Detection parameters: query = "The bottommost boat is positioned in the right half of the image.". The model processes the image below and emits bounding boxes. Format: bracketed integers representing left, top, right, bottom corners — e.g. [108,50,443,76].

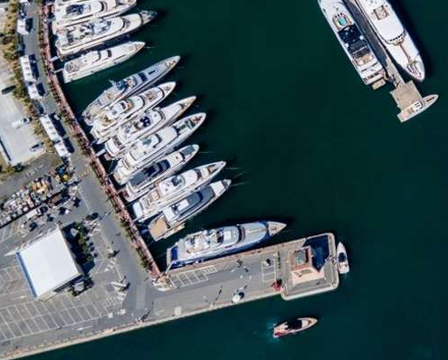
[272,319,316,342]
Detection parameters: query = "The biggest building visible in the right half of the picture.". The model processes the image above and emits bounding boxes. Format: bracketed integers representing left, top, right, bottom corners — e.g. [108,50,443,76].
[286,245,324,286]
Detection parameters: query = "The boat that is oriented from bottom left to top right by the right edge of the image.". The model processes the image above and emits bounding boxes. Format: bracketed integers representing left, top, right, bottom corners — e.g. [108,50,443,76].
[396,97,437,125]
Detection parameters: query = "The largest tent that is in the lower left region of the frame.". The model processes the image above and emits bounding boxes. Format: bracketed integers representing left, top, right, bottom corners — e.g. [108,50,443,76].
[17,228,88,302]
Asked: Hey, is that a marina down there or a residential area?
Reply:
marina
